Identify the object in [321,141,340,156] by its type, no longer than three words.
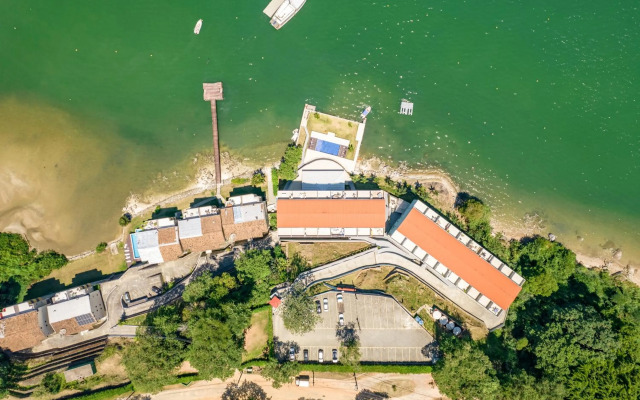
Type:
swimming pool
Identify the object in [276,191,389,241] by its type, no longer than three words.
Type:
building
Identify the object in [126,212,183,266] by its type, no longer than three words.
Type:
house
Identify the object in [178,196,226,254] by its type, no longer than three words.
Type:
house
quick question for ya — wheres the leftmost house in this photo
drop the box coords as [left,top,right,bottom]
[0,292,64,350]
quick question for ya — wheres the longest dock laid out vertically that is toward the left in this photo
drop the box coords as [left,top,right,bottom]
[203,82,223,171]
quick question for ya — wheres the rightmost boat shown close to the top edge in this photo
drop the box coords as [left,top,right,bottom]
[268,0,301,31]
